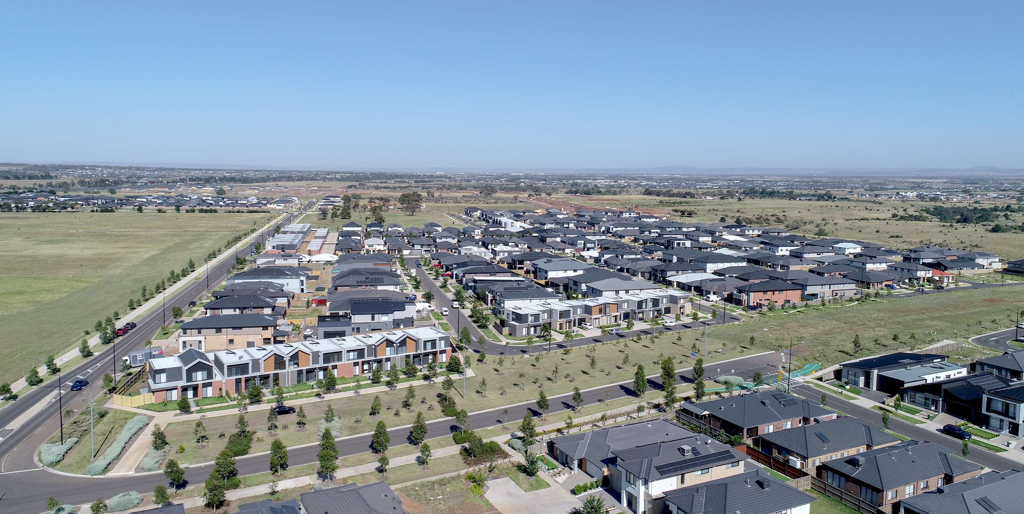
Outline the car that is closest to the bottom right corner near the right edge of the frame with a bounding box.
[940,424,976,440]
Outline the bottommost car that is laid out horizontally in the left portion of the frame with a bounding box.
[270,403,298,415]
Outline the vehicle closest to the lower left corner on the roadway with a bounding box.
[65,378,95,390]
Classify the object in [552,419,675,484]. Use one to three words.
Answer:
house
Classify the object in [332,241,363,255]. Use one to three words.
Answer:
house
